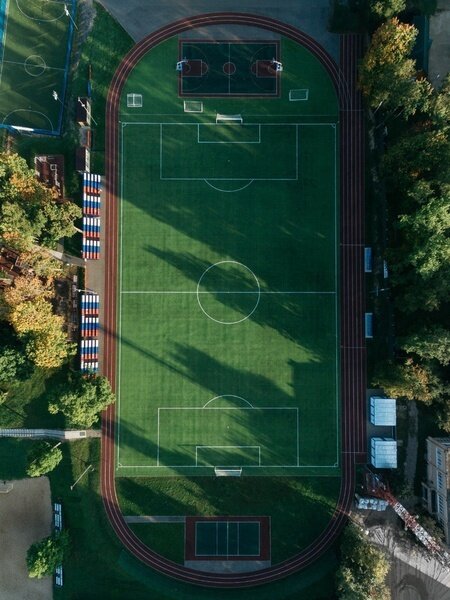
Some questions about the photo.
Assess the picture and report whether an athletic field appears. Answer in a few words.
Yes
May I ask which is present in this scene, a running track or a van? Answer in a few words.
running track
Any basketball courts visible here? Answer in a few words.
Yes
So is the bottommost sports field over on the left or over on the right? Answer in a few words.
left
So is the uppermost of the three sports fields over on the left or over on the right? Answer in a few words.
left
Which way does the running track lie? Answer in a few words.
from top to bottom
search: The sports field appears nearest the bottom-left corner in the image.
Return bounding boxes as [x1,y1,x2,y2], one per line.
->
[0,475,53,600]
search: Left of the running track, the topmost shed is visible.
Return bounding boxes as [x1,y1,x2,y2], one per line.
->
[75,94,91,127]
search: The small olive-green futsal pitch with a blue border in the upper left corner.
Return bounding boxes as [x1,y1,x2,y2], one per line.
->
[0,0,79,134]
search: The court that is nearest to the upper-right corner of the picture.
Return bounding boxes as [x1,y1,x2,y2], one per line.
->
[179,40,279,97]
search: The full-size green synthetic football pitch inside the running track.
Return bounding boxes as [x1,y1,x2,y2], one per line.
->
[114,34,342,476]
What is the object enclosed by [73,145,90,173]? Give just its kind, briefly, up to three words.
shed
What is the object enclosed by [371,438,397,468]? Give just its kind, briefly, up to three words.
shed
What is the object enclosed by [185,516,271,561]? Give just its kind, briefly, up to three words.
sports court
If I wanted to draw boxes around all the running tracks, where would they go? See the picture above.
[101,12,366,587]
